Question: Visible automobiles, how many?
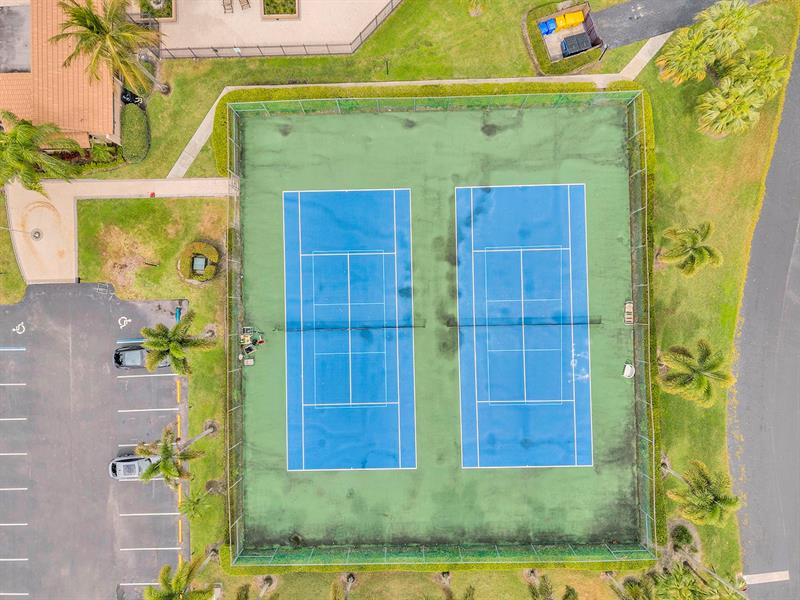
2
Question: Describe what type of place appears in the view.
sports ground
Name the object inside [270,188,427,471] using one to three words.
tennis court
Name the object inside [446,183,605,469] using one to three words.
tennis court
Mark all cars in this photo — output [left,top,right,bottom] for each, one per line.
[115,344,173,371]
[112,454,162,482]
